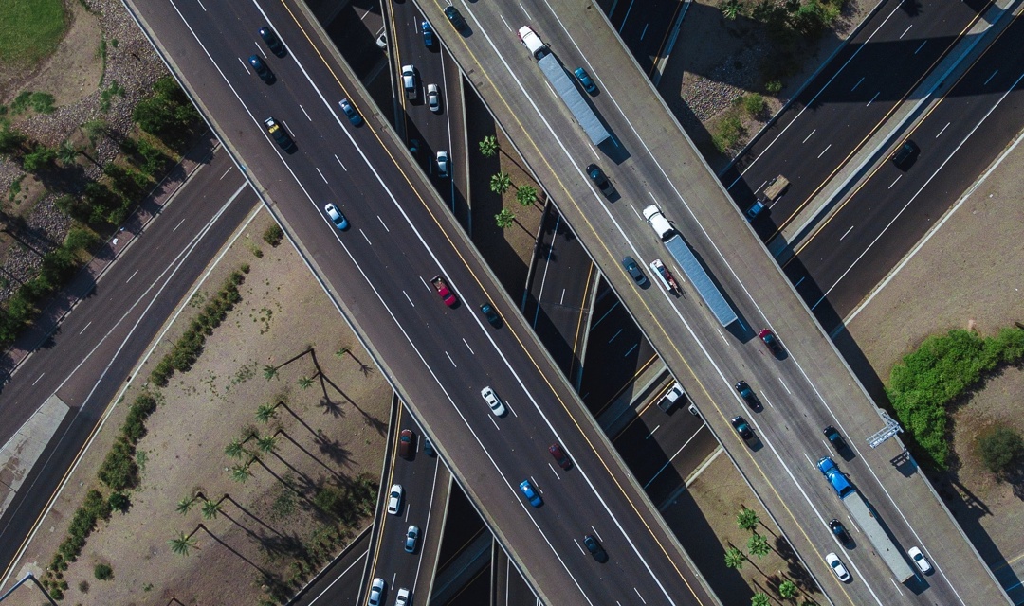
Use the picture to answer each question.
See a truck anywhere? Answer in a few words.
Yes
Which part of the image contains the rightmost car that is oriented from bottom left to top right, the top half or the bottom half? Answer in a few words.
top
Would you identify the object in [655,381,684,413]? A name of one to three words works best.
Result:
truck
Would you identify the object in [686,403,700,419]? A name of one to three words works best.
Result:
car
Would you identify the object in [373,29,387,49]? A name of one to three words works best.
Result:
car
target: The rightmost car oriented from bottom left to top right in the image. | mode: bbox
[888,136,916,164]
